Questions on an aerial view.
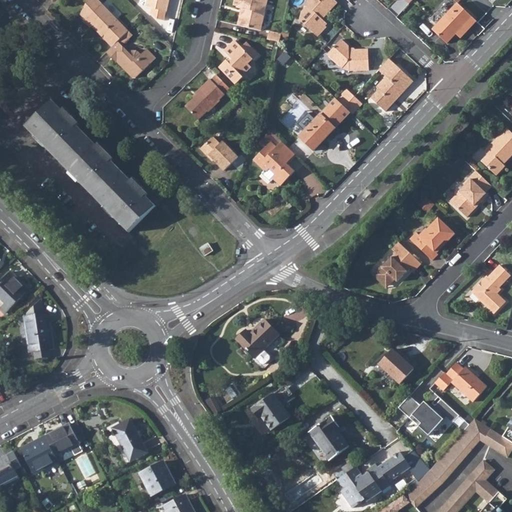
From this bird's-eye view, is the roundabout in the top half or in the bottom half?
bottom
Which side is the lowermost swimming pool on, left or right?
left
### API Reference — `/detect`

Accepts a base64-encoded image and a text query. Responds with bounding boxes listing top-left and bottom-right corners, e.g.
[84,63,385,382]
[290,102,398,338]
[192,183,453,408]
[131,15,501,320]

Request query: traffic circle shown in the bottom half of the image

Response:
[89,306,170,388]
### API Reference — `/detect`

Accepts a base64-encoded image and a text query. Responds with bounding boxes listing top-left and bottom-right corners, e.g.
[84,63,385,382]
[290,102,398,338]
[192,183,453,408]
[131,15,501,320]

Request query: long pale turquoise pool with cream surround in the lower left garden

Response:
[76,453,96,478]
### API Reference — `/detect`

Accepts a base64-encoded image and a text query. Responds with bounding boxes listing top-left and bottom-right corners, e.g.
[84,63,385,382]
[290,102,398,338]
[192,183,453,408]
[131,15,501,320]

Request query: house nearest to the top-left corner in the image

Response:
[80,0,127,46]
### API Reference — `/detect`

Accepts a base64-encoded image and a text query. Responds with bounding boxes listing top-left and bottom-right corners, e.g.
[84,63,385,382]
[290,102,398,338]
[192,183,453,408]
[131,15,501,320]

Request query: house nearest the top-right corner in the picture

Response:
[432,2,476,45]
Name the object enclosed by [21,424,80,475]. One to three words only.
house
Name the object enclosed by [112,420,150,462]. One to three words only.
house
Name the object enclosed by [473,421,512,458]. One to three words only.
building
